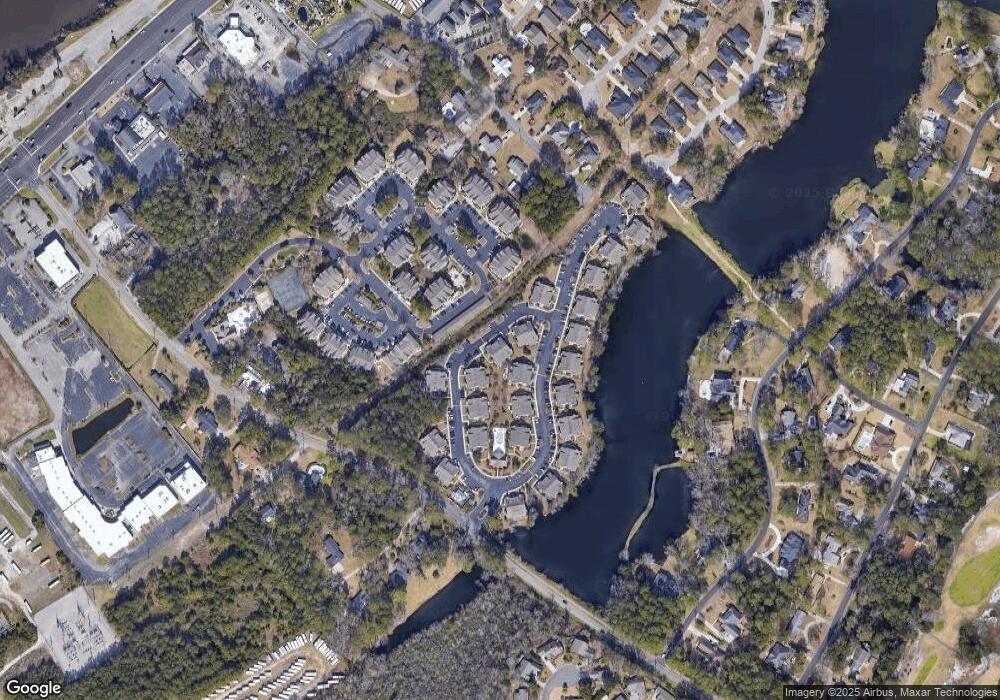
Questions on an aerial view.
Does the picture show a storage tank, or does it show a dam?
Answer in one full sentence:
Visible in the photo is a dam.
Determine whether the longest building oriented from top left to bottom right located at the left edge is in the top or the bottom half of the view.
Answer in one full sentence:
The longest building oriented from top left to bottom right located at the left edge is in the bottom half of the image.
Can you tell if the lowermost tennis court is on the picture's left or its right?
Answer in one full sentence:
The lowermost tennis court appears in the left half of the scene.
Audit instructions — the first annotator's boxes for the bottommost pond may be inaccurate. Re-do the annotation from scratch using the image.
[373,567,484,655]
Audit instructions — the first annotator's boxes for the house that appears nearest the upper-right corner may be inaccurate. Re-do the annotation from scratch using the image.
[953,50,978,68]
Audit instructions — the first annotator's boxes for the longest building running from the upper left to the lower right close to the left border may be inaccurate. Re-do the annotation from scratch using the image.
[31,446,134,557]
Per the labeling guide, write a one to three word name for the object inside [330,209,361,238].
building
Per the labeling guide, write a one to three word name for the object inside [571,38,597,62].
house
